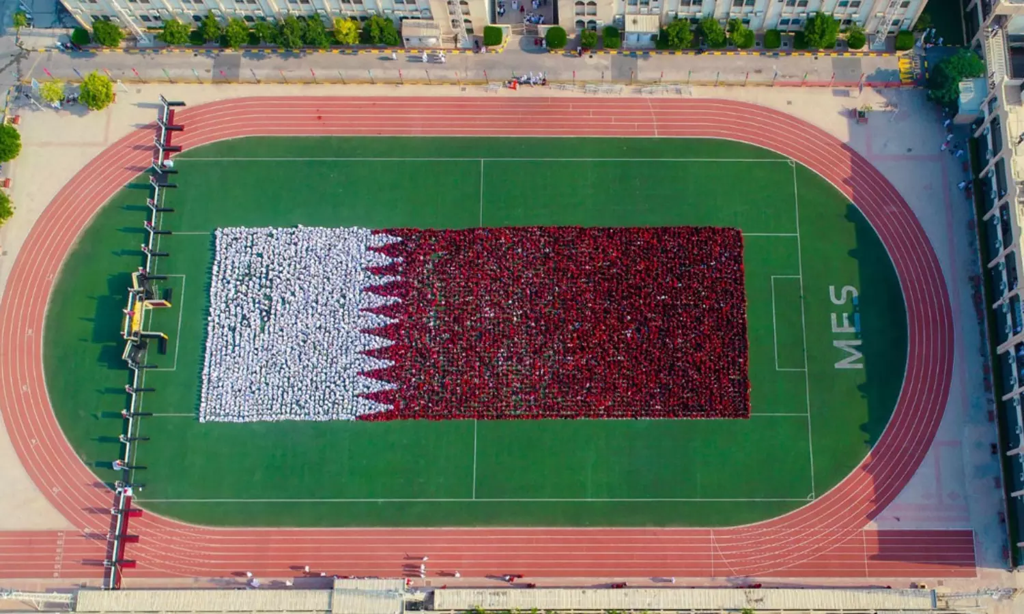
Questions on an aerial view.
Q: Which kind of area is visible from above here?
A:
sports ground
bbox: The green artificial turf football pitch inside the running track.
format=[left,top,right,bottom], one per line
[43,137,907,527]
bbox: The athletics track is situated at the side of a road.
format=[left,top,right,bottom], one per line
[0,96,977,577]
